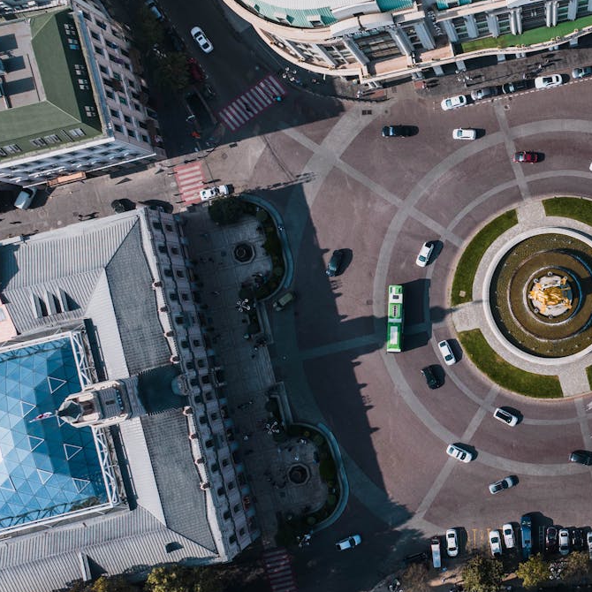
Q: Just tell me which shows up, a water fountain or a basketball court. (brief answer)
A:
water fountain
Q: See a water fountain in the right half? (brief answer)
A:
Yes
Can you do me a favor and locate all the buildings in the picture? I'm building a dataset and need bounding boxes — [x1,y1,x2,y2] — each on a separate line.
[0,207,258,592]
[0,6,159,195]
[215,0,592,86]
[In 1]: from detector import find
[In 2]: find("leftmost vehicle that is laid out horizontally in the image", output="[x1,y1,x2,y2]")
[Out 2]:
[112,200,136,212]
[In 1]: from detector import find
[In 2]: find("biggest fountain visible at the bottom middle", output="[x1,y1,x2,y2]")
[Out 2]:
[287,464,309,486]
